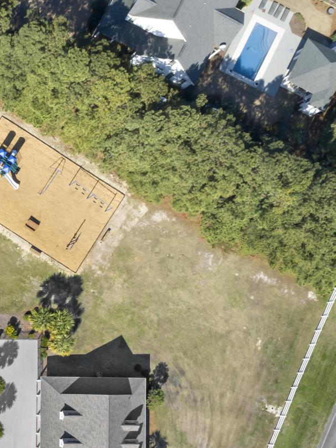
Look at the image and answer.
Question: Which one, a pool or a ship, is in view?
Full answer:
Looking from above, you can make out a pool.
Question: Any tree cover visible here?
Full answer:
Yes, tree cover can be seen from above here.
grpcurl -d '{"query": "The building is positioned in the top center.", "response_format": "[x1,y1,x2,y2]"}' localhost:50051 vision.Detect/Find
[92,0,251,91]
